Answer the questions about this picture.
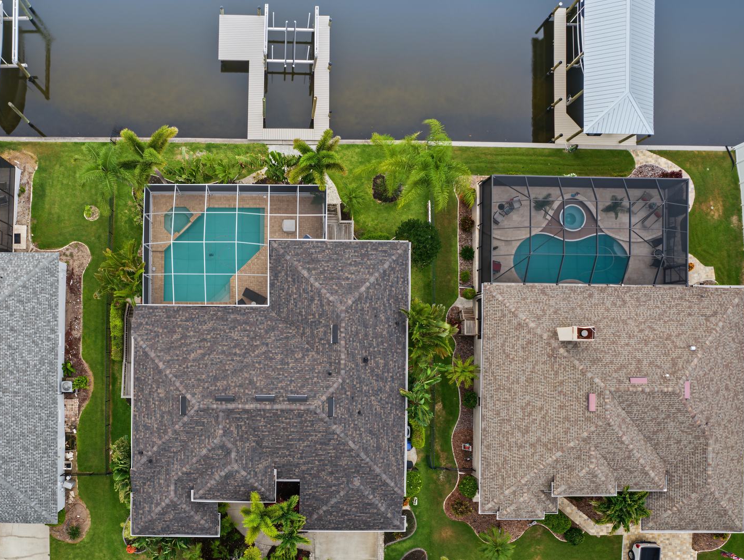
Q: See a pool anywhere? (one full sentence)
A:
Yes, looking at the shot, I can spot a pool.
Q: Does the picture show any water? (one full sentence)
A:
Yes, water can be seen from above here.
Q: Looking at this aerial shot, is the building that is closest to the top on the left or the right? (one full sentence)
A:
You can find the building that is closest to the top on the right side of the picture.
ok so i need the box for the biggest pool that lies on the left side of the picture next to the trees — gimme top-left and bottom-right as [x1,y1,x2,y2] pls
[162,205,266,304]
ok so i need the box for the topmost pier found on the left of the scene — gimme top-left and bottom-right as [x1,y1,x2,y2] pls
[219,14,329,140]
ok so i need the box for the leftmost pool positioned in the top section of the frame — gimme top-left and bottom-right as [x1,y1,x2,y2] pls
[162,205,194,236]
